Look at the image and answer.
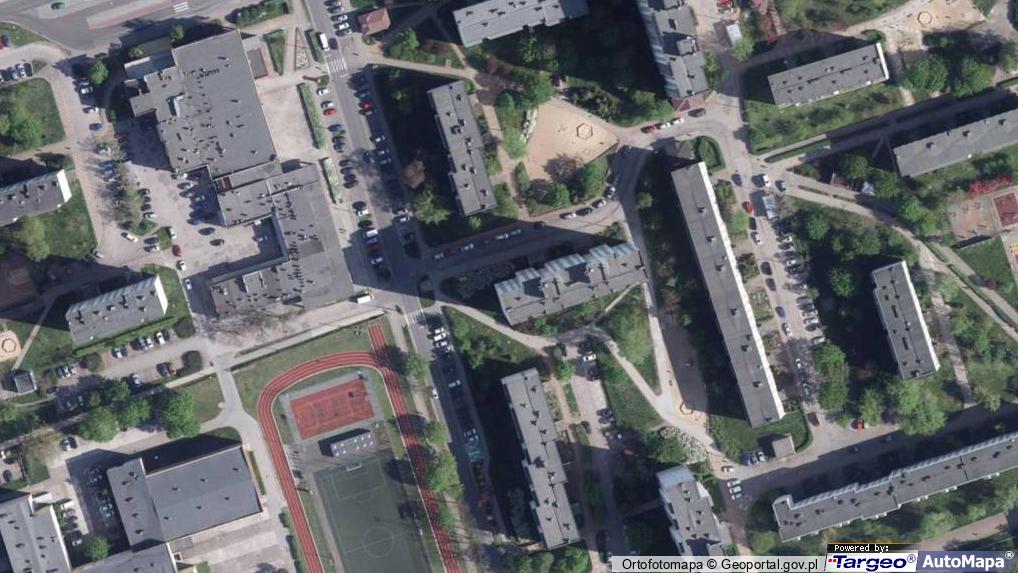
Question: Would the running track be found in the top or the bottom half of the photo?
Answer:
bottom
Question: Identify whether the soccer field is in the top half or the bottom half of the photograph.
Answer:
bottom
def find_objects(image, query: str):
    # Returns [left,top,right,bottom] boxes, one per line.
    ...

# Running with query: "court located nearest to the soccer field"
[279,371,384,446]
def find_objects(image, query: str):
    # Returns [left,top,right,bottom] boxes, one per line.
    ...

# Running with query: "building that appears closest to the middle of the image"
[498,242,651,325]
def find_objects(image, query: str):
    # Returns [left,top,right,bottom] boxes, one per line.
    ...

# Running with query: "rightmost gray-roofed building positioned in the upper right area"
[893,105,1018,176]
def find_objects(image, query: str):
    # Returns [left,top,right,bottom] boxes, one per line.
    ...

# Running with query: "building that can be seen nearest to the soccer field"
[330,431,375,457]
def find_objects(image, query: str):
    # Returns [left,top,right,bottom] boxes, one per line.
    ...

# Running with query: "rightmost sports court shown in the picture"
[992,191,1018,229]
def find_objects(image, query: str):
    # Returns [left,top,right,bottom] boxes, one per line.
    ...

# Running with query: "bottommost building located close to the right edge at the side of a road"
[774,432,1018,541]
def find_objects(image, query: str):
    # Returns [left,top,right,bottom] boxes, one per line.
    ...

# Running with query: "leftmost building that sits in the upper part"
[0,170,73,222]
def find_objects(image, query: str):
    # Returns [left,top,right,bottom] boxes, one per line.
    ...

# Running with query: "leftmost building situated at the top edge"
[130,28,280,177]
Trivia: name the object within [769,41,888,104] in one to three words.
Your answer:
building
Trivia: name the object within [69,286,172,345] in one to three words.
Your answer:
building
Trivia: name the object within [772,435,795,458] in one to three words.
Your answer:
shed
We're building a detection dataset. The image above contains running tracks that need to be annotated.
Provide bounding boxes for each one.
[257,323,460,573]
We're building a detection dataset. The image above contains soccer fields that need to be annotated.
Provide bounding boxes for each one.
[315,452,425,573]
